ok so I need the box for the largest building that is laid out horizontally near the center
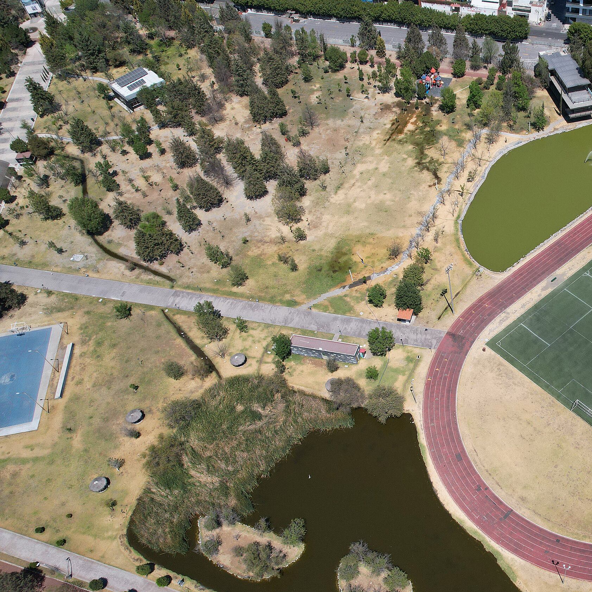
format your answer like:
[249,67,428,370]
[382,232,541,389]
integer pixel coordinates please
[290,334,366,363]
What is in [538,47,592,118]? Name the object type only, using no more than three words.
building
